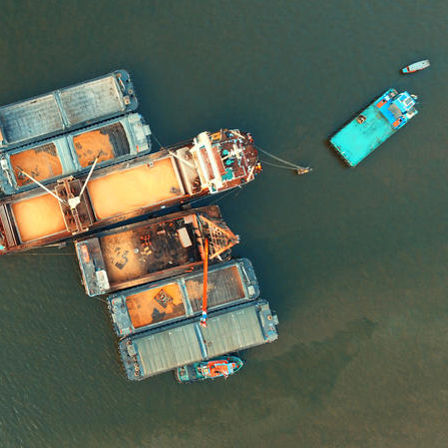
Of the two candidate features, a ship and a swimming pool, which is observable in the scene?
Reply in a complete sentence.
The one in the frame is a ship.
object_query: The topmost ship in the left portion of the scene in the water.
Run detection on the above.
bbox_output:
[0,70,138,152]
